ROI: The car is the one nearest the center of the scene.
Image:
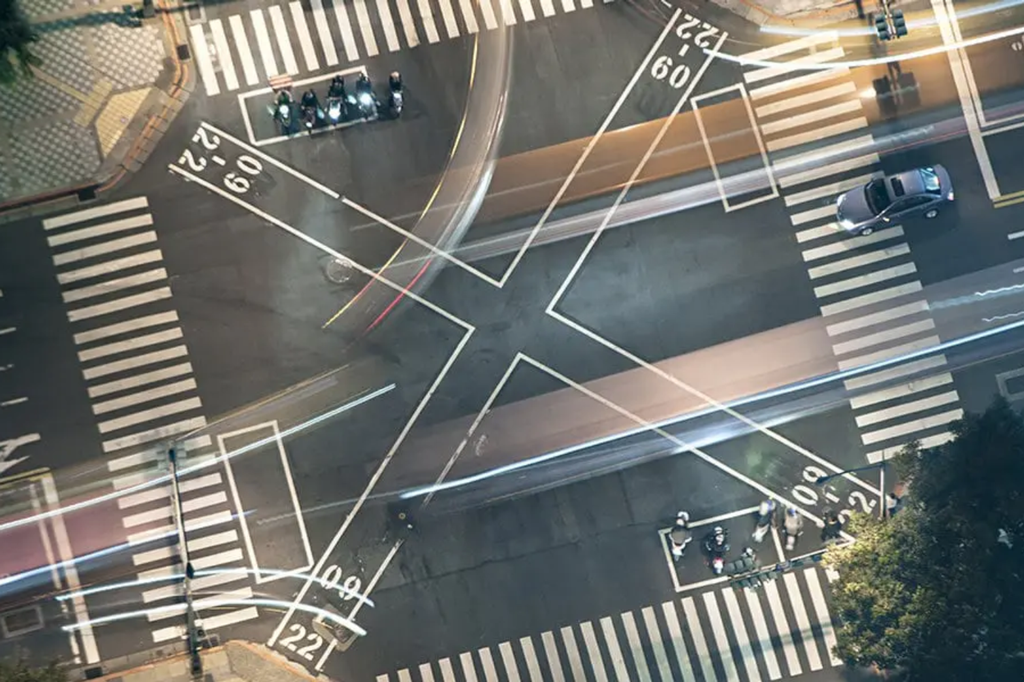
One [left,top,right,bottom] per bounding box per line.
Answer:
[453,157,574,228]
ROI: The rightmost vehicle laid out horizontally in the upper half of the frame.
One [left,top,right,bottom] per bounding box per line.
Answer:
[833,163,955,235]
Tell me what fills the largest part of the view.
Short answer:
paved ground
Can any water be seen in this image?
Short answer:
No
